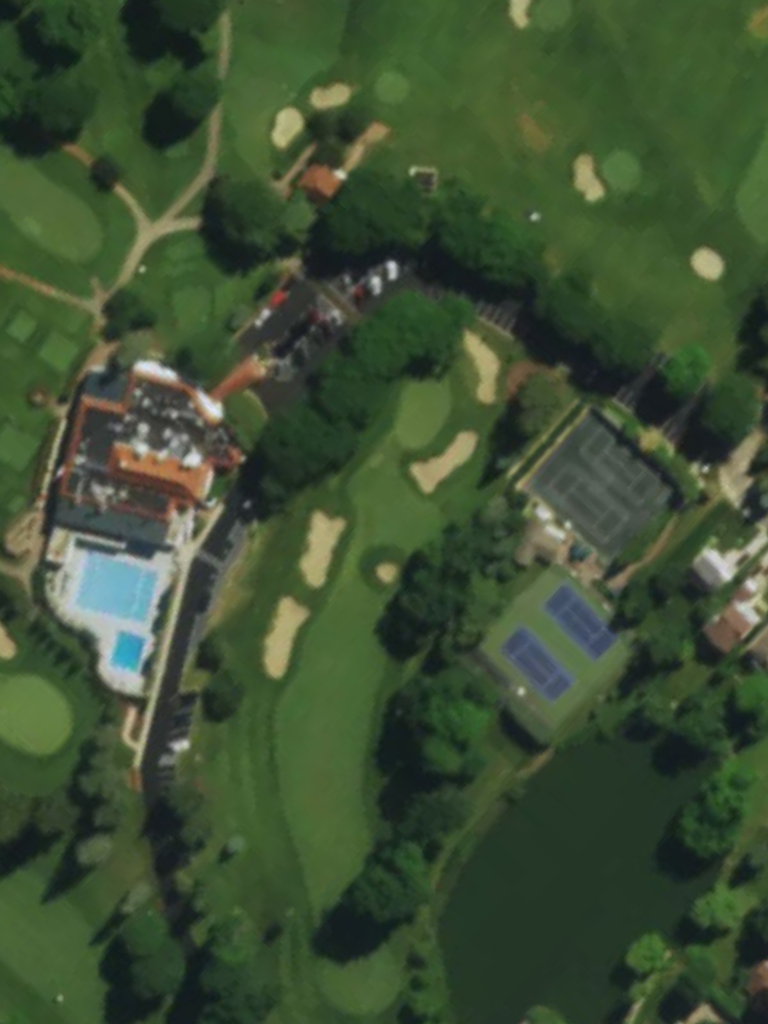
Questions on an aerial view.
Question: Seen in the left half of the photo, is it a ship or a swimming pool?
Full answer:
Visible in the left half of the photo is a swimming pool.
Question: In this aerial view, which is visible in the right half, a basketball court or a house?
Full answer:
Looking in the right half, you will find a house.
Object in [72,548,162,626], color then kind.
blue swimming pool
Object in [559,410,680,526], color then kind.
gray tennis court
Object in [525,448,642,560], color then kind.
gray tennis court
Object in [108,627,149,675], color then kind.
blue swimming pool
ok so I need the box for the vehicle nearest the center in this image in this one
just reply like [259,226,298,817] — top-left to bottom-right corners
[242,497,254,513]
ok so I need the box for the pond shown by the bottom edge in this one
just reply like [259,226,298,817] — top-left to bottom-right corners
[440,738,713,1024]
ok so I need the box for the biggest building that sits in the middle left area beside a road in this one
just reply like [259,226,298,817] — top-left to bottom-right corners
[53,351,265,546]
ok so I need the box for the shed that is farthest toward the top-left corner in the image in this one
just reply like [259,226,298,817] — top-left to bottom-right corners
[301,166,347,203]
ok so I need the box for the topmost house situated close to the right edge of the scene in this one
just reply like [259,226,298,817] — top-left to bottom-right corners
[694,546,734,592]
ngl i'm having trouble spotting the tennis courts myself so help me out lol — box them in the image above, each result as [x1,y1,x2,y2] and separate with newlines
[484,605,601,742]
[519,563,637,680]
[525,448,642,560]
[559,410,680,526]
